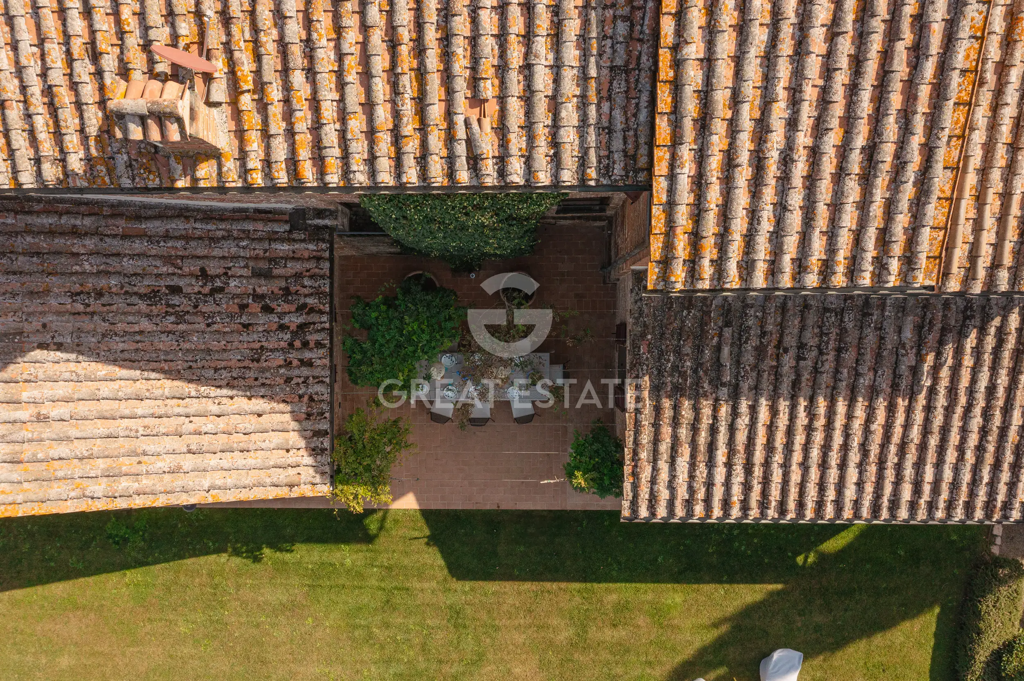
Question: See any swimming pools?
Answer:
No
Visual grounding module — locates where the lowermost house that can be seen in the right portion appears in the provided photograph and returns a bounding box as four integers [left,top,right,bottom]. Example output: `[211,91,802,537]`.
[612,259,1024,526]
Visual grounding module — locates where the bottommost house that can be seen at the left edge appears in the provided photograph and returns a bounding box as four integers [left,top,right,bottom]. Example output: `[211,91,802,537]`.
[0,196,342,523]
